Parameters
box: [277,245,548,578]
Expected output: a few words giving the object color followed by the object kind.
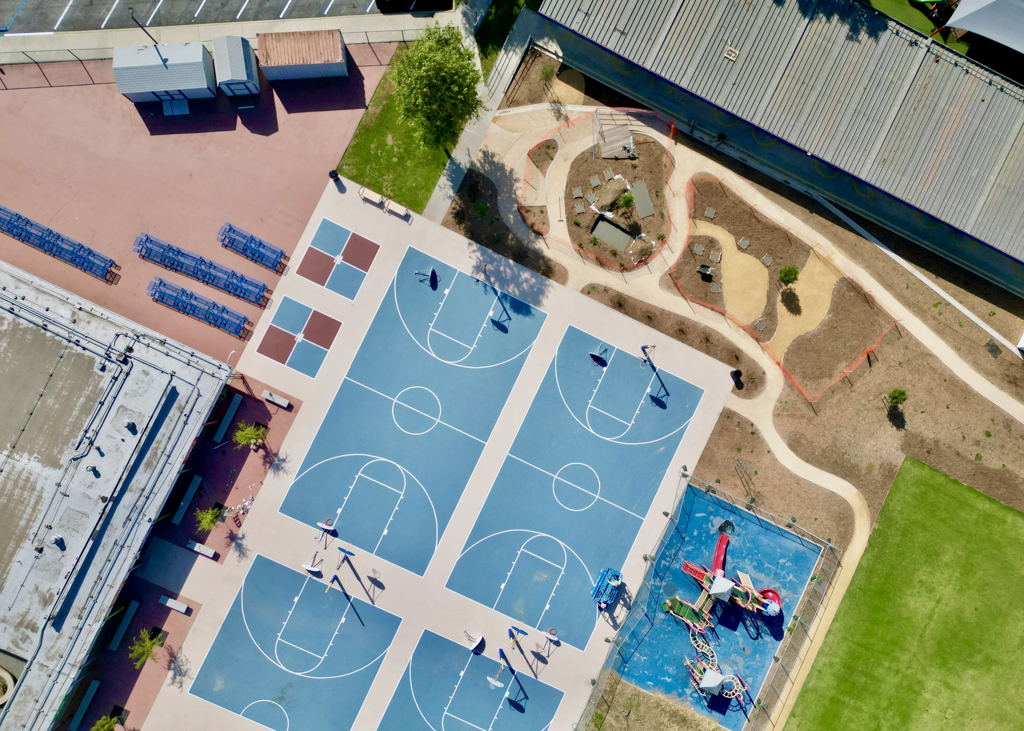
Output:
blue basketball court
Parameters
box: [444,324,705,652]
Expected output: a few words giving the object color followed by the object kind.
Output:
blue basketball court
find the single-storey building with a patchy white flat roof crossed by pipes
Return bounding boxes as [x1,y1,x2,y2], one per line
[0,256,242,731]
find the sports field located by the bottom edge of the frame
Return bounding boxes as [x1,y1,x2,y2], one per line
[784,456,1024,731]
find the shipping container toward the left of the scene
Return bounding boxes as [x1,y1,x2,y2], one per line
[257,28,349,80]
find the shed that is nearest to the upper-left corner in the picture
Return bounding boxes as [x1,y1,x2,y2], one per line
[111,43,217,118]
